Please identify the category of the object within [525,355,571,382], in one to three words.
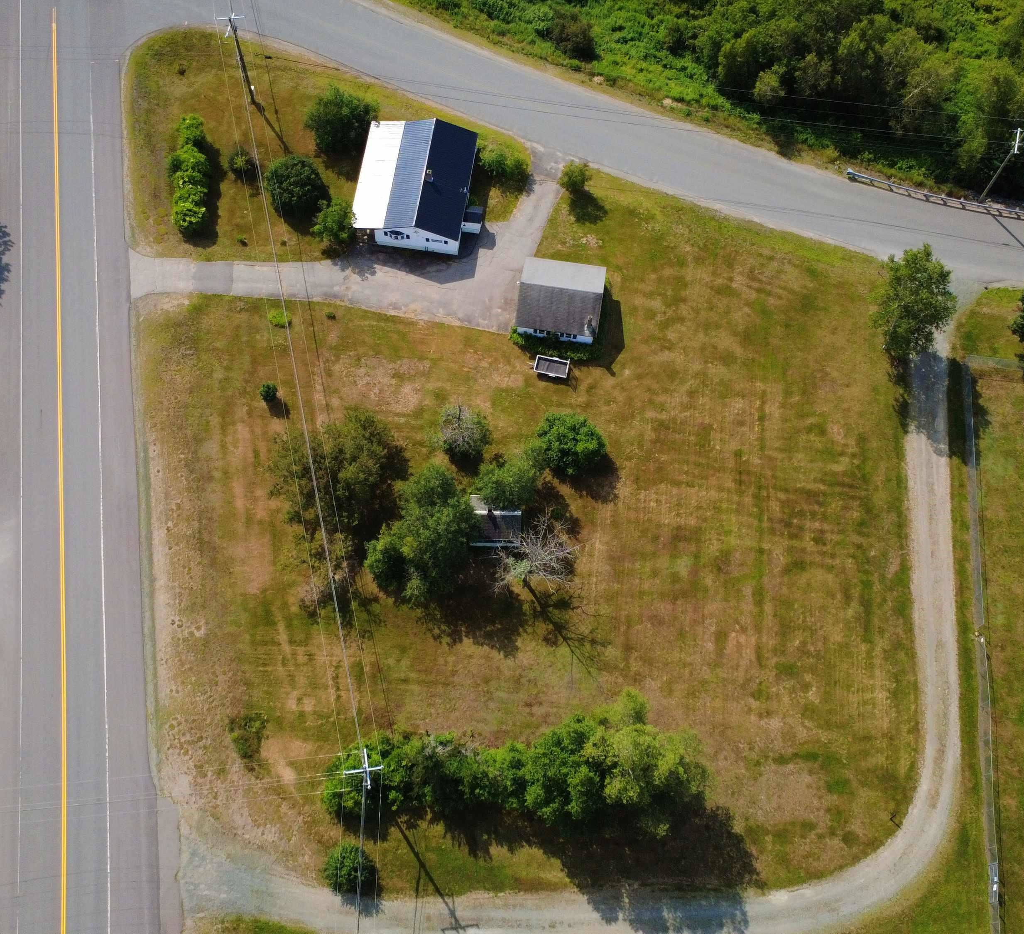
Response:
trailer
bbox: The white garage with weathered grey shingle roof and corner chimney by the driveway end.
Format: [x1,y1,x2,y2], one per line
[514,259,606,345]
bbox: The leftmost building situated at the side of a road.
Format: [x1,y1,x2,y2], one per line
[352,117,482,255]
